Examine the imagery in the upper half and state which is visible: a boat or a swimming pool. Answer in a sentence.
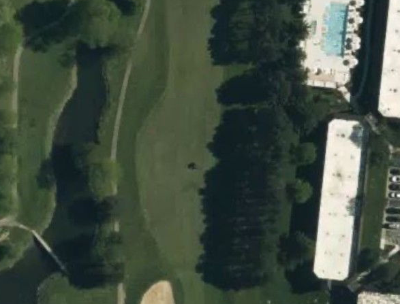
Visible in the upper half is a swimming pool.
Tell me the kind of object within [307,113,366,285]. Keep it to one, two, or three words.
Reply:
building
